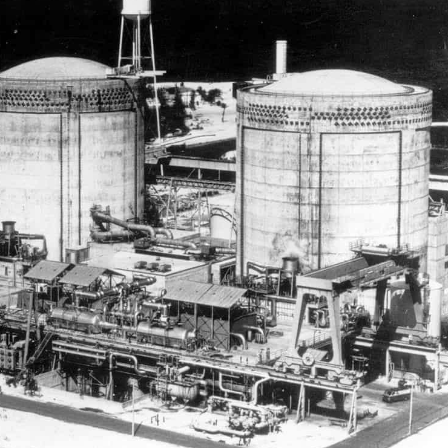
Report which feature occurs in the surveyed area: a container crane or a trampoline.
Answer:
container crane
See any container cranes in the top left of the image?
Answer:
No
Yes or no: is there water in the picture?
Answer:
Yes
